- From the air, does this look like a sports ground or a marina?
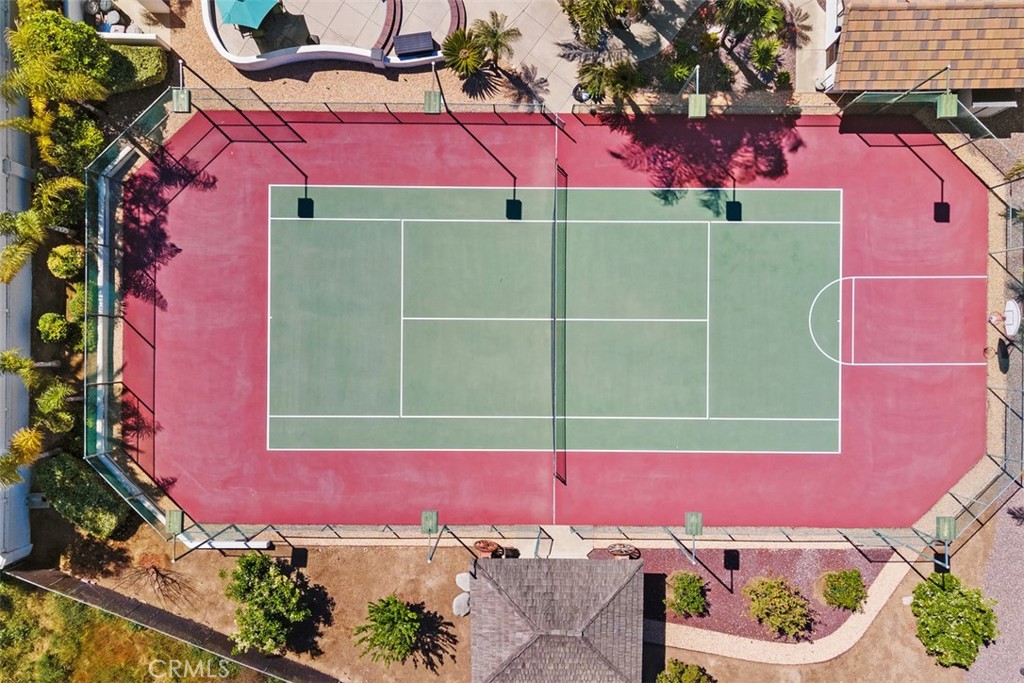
sports ground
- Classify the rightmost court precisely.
basketball court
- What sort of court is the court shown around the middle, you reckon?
tennis court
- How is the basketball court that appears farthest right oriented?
horizontally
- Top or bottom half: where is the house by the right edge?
top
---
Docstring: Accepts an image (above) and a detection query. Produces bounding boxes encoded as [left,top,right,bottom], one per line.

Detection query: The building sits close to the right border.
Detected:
[824,0,1024,93]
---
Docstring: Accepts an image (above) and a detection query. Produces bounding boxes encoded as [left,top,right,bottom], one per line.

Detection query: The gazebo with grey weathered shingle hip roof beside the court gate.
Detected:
[471,546,645,683]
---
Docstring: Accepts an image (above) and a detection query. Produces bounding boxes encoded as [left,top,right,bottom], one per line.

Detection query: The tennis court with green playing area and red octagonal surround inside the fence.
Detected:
[122,110,989,528]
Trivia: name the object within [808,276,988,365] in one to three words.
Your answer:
basketball court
